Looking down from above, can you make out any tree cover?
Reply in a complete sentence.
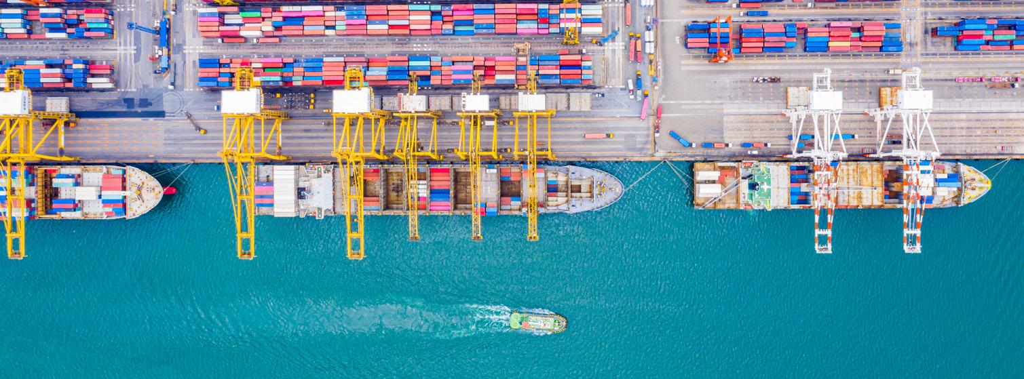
No, there is no tree cover in the image.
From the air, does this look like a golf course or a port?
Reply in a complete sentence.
The area seen from above is a port.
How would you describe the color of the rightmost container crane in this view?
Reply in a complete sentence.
The rightmost container crane is white.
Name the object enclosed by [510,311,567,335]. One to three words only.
boat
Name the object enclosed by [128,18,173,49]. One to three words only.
crane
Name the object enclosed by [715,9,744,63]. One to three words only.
container crane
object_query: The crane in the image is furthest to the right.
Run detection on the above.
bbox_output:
[855,68,943,253]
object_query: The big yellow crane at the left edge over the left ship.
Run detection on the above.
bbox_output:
[0,65,80,259]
